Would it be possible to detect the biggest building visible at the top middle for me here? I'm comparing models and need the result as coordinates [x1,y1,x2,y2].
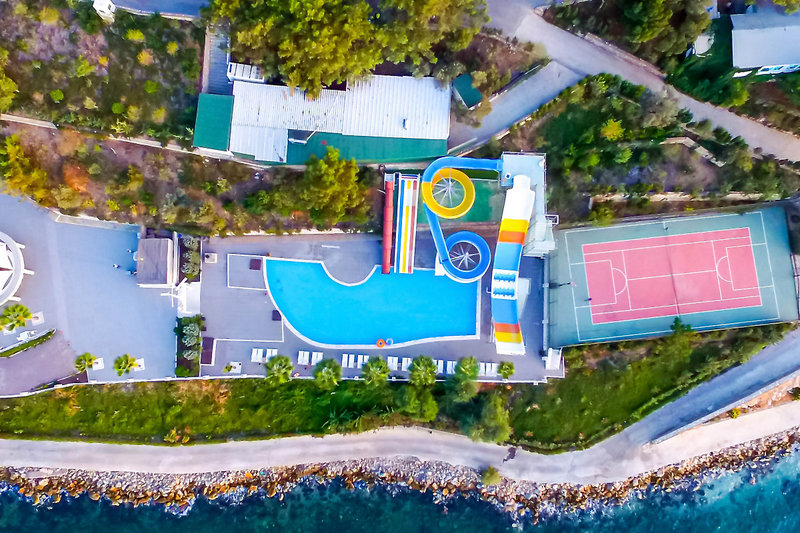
[193,76,450,166]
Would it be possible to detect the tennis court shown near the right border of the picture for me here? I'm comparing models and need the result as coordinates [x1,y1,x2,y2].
[550,208,798,346]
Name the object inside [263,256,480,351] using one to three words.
swimming pool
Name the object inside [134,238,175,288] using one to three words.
shed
